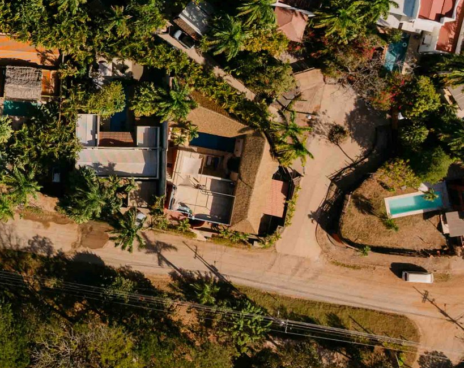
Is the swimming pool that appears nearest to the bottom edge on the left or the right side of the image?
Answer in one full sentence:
The swimming pool that appears nearest to the bottom edge is on the right side of the image.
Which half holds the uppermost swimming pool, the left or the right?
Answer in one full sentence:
The uppermost swimming pool appears in the right half of the scene.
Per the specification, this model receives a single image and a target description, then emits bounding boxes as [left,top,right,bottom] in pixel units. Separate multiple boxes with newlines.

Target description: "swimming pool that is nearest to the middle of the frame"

[186,134,237,156]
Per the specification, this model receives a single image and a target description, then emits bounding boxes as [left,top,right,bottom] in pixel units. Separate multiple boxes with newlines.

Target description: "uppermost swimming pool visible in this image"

[380,33,410,74]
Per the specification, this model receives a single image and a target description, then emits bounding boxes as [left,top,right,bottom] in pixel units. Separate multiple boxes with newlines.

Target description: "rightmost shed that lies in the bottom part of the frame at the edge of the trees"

[433,209,464,239]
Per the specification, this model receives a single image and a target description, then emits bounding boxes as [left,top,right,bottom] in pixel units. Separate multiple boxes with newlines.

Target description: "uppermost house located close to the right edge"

[366,0,464,56]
